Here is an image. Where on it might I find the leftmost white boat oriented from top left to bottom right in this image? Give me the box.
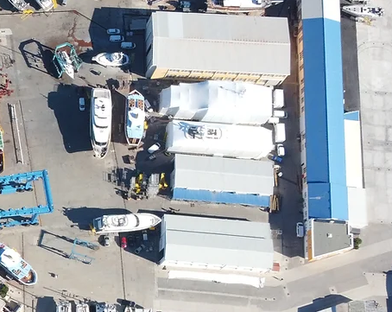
[0,241,38,286]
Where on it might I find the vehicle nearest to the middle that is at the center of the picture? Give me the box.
[146,142,163,155]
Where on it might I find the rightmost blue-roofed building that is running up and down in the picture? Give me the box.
[293,0,348,227]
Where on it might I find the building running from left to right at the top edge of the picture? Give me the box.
[149,12,291,86]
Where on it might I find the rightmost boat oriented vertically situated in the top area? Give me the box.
[128,87,145,148]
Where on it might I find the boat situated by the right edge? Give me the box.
[341,2,385,16]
